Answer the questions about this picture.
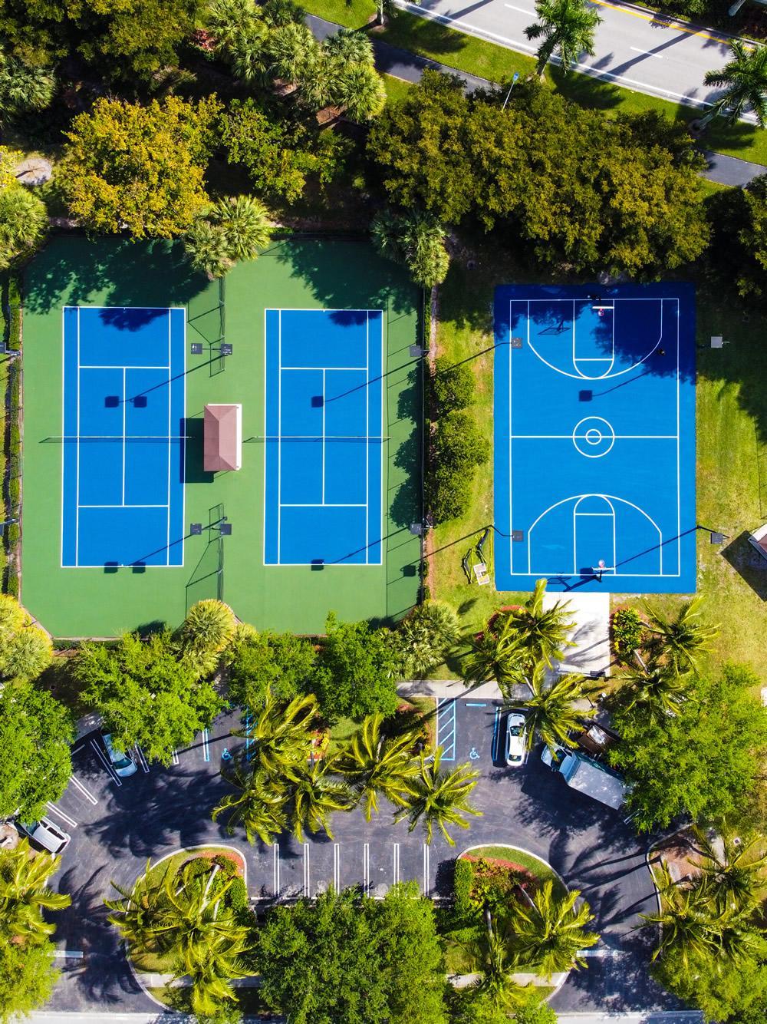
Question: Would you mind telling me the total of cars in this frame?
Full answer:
Looking from above, you can make out 3 cars.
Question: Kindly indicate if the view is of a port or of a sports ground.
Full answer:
This image shows a sports ground.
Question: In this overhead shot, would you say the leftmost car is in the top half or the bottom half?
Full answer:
It is in the bottom half that the leftmost car appears.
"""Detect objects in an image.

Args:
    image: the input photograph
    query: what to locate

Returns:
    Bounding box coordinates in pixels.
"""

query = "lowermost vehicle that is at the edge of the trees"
[14,809,69,855]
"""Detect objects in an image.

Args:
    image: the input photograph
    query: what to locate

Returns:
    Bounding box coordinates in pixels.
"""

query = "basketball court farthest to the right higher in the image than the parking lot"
[494,284,696,593]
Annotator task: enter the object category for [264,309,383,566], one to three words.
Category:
tennis court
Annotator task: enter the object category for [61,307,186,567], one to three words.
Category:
tennis court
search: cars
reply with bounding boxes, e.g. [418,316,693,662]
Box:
[14,809,69,855]
[505,713,526,768]
[95,731,136,780]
